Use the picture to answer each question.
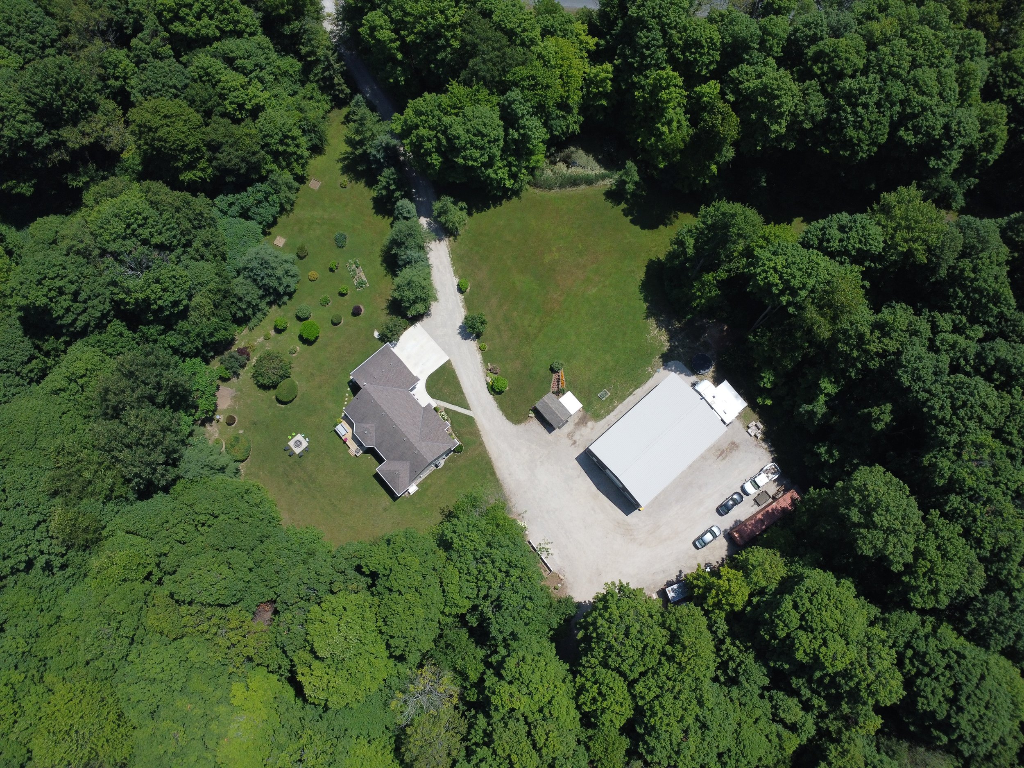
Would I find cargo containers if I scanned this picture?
Yes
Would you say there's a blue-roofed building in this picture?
No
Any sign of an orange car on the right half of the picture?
No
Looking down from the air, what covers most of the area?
trees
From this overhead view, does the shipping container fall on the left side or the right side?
right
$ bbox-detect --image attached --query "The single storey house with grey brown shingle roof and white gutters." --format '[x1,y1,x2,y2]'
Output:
[343,342,460,497]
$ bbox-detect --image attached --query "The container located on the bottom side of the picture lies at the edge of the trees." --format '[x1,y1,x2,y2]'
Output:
[724,489,803,547]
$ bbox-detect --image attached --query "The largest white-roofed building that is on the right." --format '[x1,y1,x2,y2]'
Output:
[587,372,728,507]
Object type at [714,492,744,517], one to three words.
car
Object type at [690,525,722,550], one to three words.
car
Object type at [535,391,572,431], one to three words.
shed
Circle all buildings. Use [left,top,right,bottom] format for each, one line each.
[587,372,728,507]
[535,391,572,431]
[343,342,460,497]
